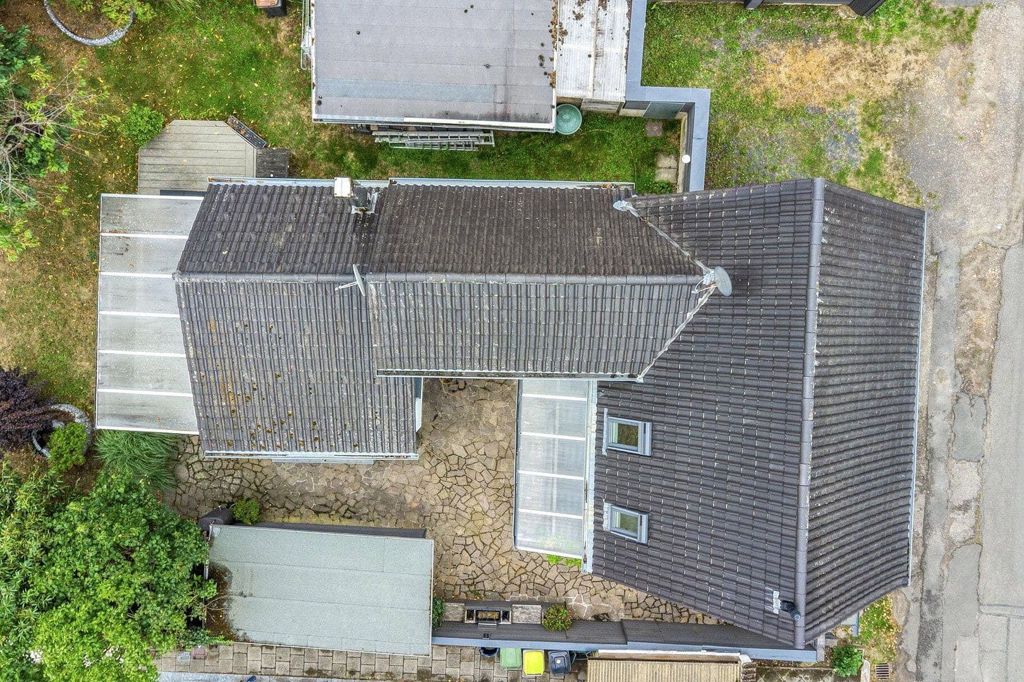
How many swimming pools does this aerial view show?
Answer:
0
